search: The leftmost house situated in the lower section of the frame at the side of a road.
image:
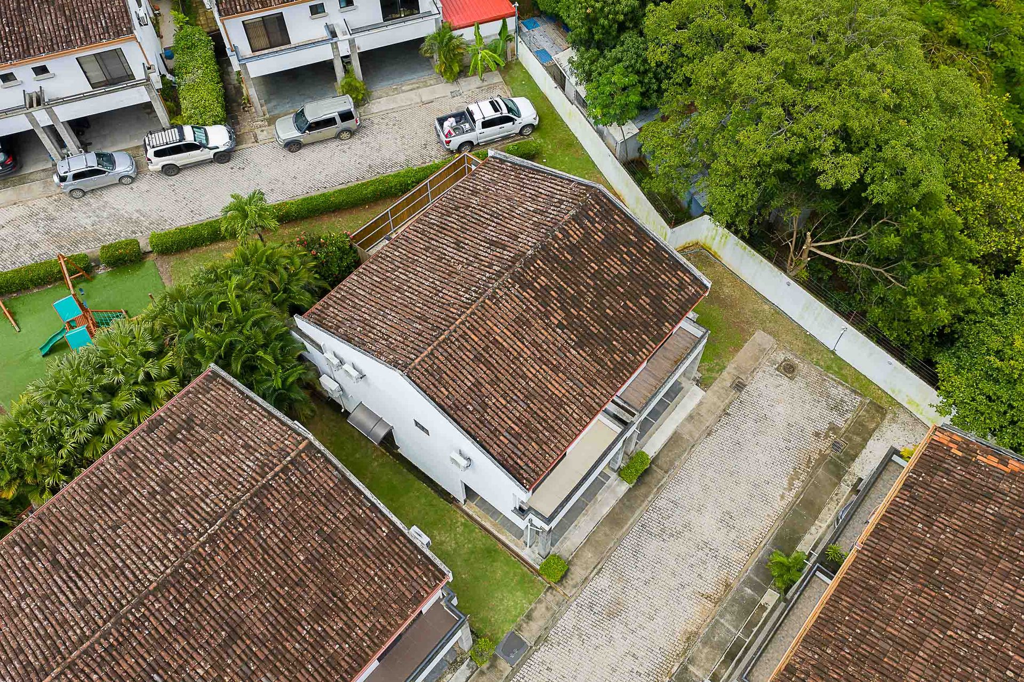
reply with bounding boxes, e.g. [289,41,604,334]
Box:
[0,366,473,682]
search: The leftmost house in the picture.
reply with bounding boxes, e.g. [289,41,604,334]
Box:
[0,0,171,175]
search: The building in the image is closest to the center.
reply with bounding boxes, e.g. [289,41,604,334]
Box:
[297,156,714,561]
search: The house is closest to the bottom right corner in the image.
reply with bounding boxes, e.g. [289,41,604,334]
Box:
[730,424,1024,682]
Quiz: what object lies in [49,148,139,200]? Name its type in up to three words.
car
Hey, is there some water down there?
No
